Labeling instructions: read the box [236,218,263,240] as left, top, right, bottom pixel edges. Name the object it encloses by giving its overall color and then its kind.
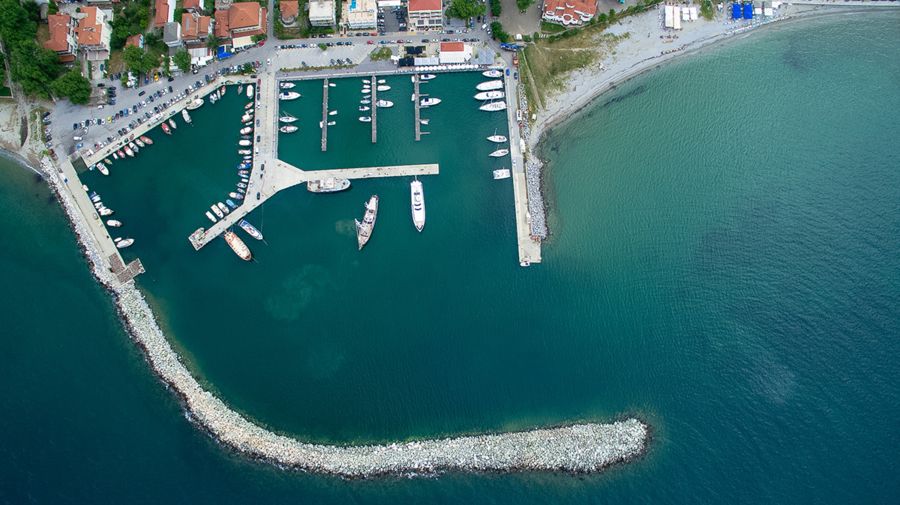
white boat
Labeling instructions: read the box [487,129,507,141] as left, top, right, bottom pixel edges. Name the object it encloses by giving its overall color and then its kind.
white boat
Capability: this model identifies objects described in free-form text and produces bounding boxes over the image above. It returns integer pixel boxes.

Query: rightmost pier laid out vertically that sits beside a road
[503,66,541,264]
